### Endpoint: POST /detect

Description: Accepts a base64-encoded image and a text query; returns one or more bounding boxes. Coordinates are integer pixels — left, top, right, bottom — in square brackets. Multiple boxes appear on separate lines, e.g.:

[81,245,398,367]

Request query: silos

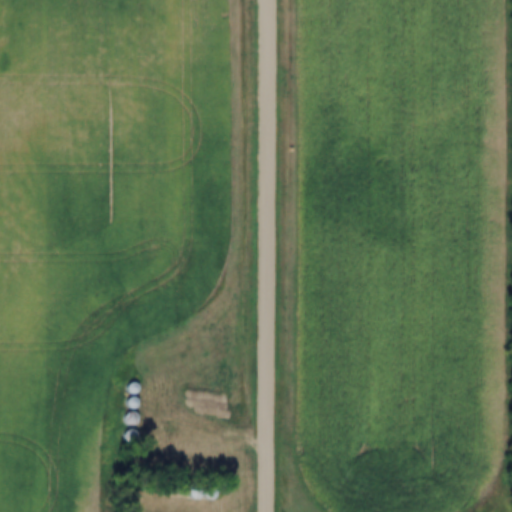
[124,428,140,444]
[126,395,142,410]
[124,410,142,427]
[127,380,142,395]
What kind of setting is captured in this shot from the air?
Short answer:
farmland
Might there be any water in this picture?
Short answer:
No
